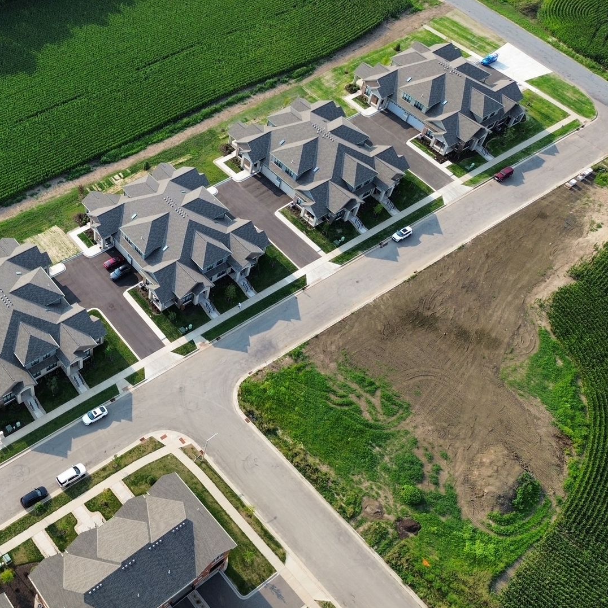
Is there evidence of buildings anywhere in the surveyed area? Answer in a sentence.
Yes, there's a building here.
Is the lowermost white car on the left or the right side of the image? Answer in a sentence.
You can find the lowermost white car on the left side of the picture.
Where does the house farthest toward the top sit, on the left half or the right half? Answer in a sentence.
The house farthest toward the top is on the right side of the image.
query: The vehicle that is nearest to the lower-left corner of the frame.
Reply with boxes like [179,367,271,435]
[17,484,50,511]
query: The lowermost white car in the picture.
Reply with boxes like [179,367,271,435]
[53,463,88,489]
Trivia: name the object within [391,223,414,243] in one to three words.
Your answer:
car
